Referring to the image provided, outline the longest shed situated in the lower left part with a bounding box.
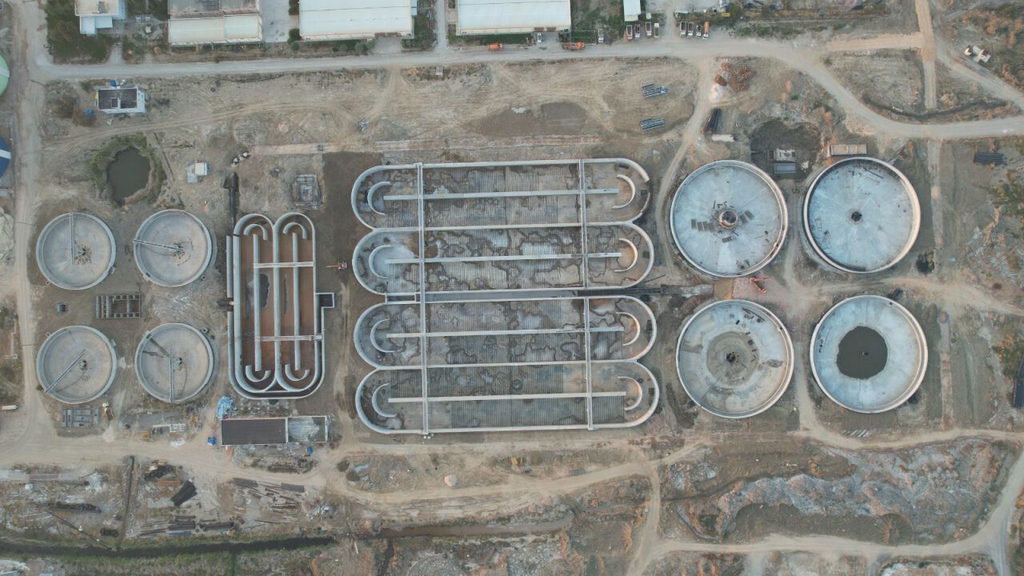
[221,414,330,446]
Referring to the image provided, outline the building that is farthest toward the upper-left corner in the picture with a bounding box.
[74,0,128,38]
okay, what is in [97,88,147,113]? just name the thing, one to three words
house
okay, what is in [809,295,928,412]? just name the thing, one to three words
storage tank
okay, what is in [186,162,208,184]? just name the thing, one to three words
building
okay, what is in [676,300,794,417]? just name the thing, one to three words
storage tank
